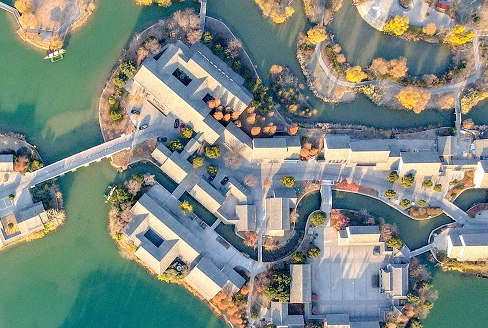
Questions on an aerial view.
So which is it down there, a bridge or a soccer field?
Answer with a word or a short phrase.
bridge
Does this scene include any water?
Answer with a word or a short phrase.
Yes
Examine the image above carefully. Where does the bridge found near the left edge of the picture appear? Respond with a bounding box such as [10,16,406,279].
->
[17,133,138,192]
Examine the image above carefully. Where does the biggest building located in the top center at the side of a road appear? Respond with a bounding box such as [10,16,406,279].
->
[135,29,255,141]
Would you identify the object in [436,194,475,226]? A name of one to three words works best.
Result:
bridge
